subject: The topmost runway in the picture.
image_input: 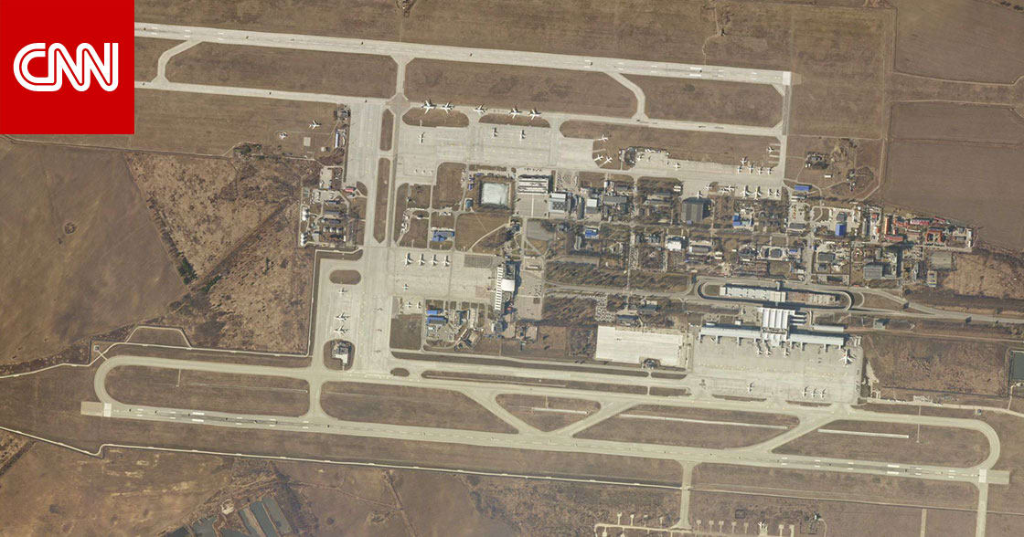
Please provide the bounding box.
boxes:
[16,13,791,86]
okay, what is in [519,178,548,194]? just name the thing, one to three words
building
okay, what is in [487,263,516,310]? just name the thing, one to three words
building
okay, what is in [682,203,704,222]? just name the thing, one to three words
hangar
